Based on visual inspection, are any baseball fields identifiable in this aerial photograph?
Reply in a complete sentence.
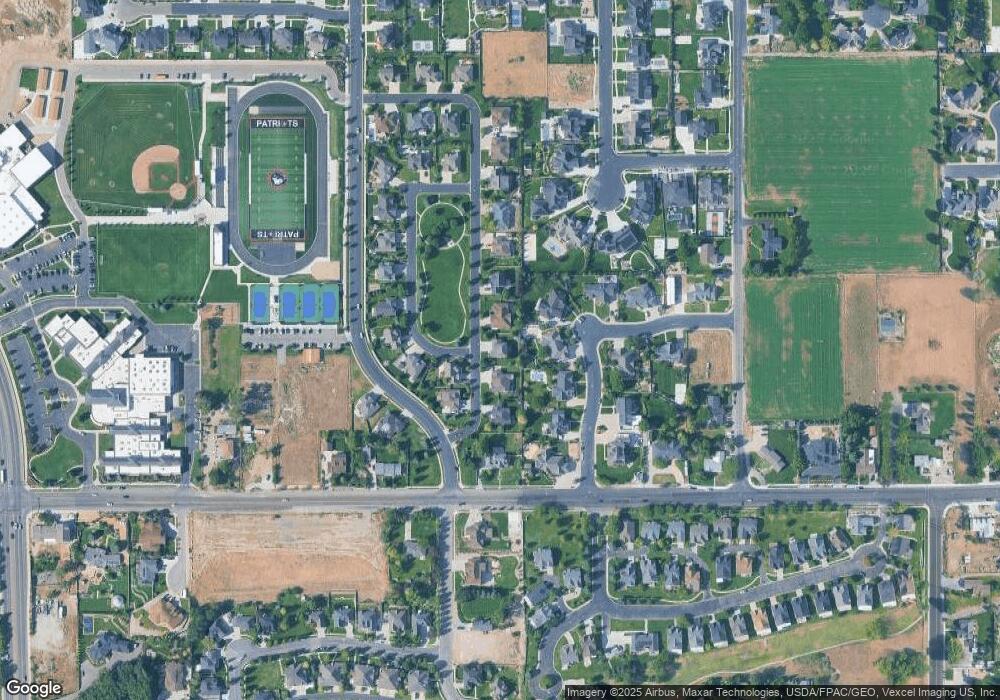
Yes, the picture does show a baseball field.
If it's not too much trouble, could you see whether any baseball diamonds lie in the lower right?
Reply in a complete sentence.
No, there's no baseball diamond to be seen in the lower right.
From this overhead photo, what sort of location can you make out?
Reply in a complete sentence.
The area seen from above is a residential area.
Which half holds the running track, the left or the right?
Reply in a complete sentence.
You can find the running track on the left side of the picture.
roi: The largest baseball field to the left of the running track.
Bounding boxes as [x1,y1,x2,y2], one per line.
[76,83,198,206]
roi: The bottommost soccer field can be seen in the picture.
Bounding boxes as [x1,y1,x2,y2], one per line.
[97,224,210,304]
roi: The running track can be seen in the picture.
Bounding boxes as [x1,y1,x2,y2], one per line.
[227,83,328,276]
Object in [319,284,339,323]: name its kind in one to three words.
tennis court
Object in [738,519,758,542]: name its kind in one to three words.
house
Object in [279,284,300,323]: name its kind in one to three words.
tennis court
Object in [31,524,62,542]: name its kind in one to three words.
shed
